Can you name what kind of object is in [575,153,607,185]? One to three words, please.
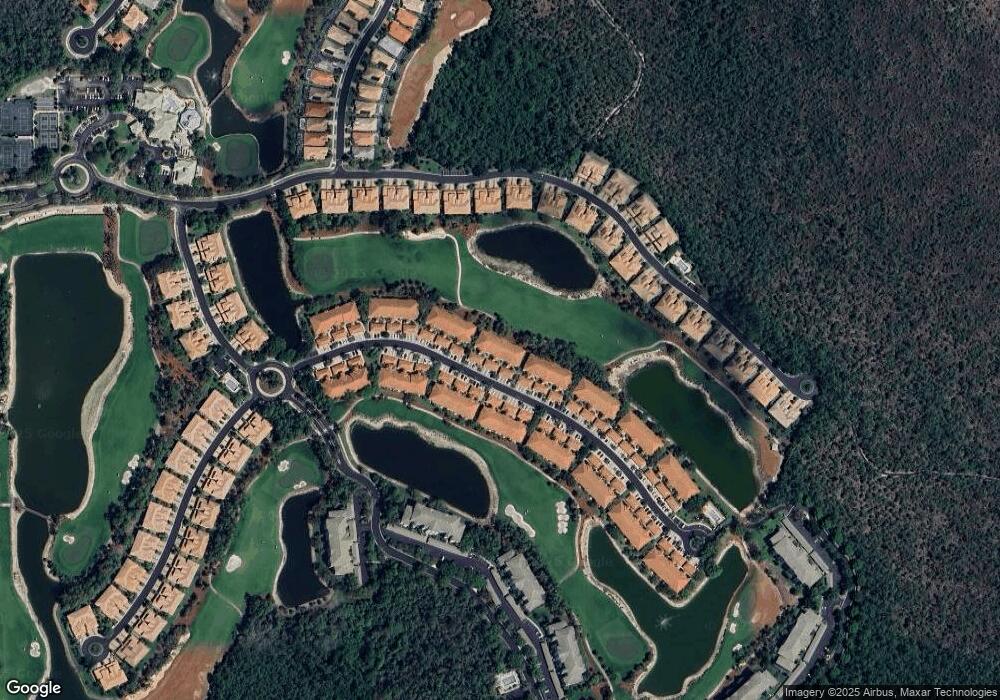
house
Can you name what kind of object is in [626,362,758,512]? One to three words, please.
pond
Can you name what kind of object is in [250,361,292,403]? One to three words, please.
roundabout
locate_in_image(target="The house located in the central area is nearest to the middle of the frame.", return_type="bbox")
[471,330,525,378]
